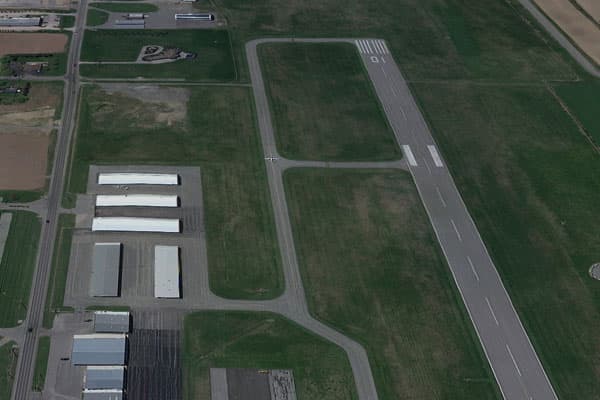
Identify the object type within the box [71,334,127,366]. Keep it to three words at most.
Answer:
hangar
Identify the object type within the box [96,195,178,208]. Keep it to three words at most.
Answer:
hangar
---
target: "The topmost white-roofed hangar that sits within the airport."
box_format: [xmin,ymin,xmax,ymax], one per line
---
[98,173,178,186]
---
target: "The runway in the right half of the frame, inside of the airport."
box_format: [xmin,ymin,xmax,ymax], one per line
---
[355,40,558,400]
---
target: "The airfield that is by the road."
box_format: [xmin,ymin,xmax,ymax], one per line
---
[64,38,558,400]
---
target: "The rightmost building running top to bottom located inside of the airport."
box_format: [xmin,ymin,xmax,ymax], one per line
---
[155,246,180,299]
